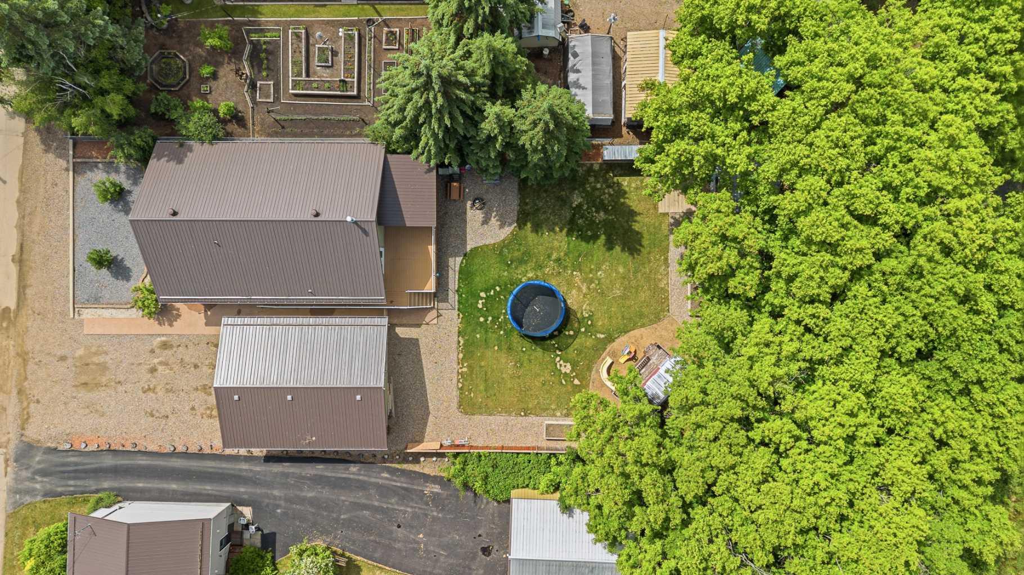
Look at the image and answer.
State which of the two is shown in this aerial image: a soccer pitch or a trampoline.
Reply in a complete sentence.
There is a trampoline in the scene.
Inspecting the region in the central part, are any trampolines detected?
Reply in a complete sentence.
Yes, in the central part there is a trampoline.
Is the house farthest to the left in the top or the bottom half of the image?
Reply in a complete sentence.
It is in the bottom half that the house farthest to the left appears.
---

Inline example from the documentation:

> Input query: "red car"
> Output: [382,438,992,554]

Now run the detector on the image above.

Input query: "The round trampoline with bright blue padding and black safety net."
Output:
[508,280,566,340]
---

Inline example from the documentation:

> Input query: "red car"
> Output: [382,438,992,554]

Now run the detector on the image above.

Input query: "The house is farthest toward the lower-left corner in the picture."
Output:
[65,501,230,575]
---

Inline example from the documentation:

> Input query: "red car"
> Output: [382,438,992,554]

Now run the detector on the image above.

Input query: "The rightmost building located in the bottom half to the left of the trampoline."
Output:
[211,314,393,452]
